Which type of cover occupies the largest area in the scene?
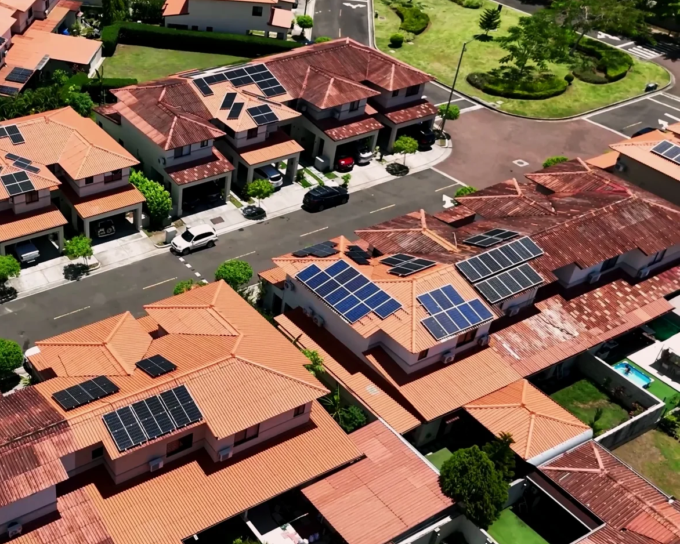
buildings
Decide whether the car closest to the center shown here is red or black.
black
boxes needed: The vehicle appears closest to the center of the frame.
[298,178,354,211]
